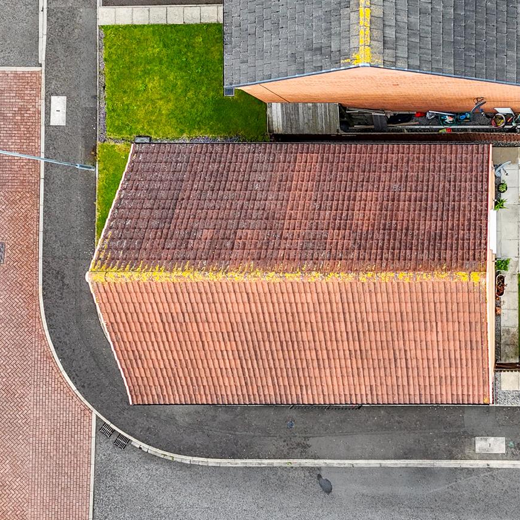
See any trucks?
No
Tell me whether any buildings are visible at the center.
Yes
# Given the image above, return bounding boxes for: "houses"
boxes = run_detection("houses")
[85,135,497,407]
[221,0,520,111]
